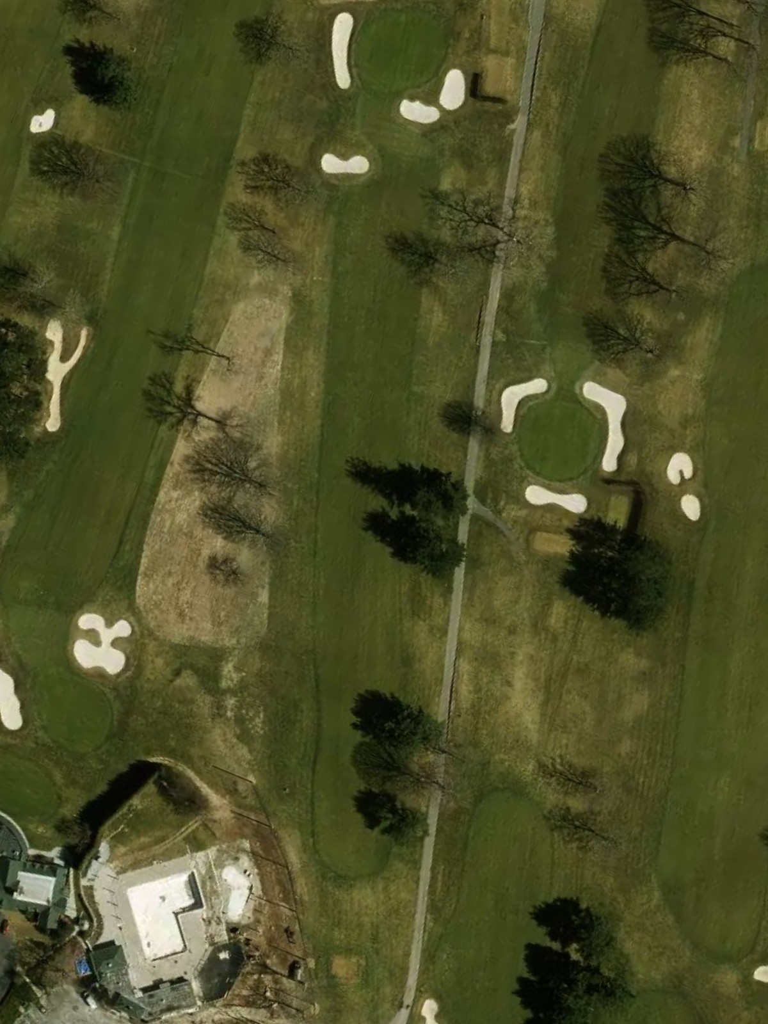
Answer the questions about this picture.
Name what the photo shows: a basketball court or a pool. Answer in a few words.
pool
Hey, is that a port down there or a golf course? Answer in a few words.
golf course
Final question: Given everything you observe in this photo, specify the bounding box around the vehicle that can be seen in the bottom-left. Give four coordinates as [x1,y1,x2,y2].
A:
[82,993,96,1009]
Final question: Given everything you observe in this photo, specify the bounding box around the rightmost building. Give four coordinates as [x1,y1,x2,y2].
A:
[89,946,196,1021]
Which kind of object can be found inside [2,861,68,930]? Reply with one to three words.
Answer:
building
